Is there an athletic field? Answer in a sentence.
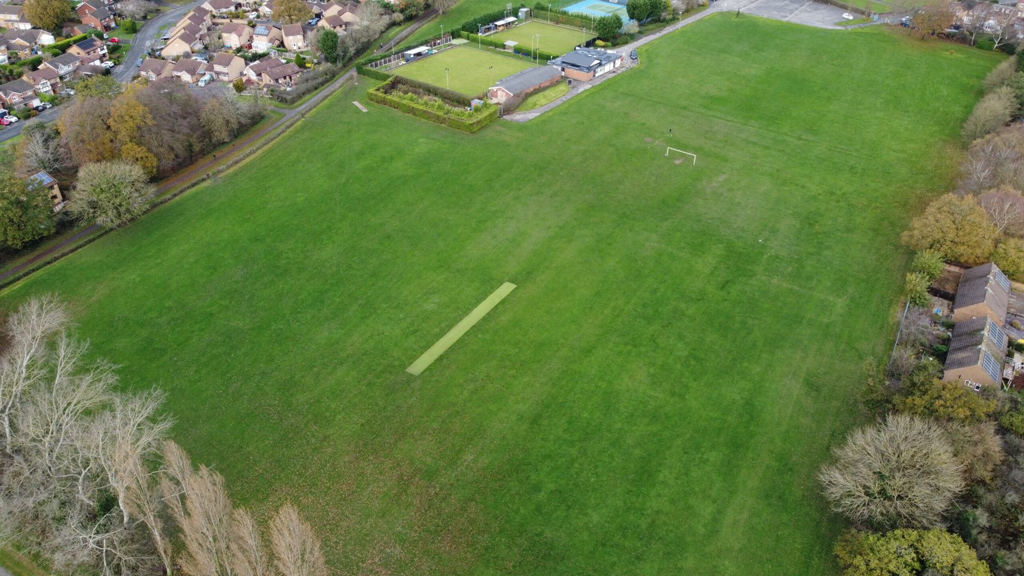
Yes, an athletic field is visible in the scene.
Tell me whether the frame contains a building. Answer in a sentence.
Yes, there is a building in the image.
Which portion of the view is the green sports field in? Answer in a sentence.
The green sports field appears toward the center of the photo.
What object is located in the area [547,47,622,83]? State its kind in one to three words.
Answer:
building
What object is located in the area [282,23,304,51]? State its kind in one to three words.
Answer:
house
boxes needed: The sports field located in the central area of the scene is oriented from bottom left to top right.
[406,282,517,376]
